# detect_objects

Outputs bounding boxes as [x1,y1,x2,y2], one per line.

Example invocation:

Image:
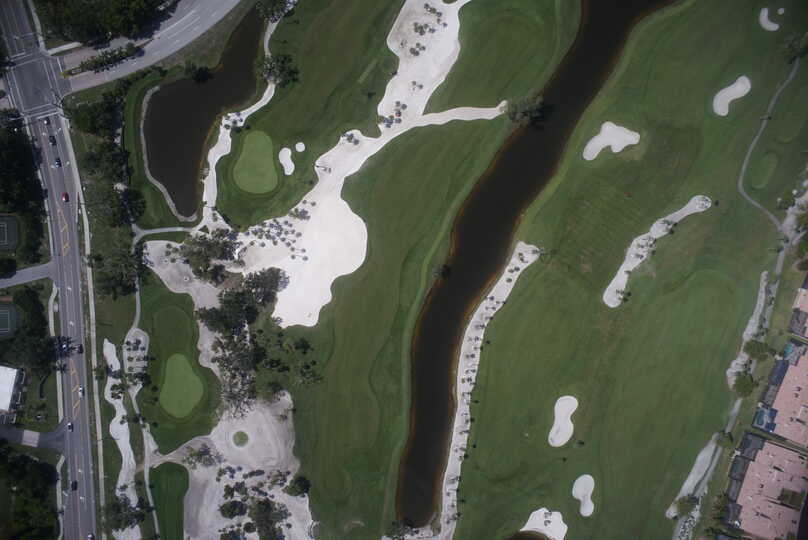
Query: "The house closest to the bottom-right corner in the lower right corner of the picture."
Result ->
[723,439,808,540]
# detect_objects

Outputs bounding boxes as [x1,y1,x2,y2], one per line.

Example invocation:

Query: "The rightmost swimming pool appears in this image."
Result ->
[784,343,802,364]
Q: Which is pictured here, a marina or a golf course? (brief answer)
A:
golf course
